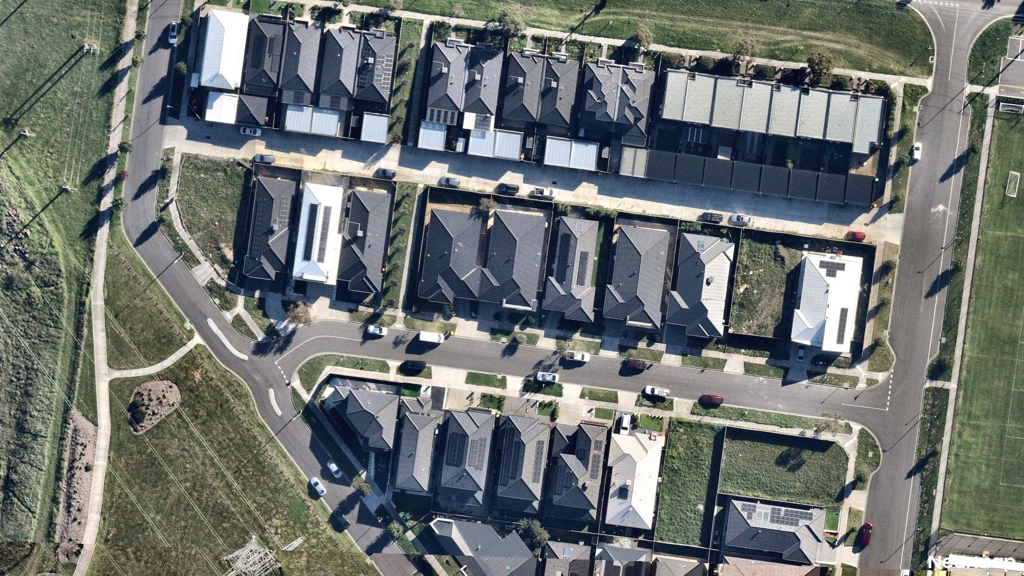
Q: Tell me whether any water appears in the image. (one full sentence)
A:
No, water can't be seen anywhere here.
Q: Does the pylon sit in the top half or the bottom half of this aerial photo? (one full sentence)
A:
The pylon sits in the bottom half of the picture.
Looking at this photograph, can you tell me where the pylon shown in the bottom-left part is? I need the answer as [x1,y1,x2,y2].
[221,532,287,576]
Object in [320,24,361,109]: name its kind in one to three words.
house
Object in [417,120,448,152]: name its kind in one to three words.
building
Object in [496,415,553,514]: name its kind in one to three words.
house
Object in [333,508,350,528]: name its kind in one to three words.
car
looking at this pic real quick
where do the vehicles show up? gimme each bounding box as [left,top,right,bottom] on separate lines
[376,168,396,178]
[168,21,178,43]
[326,459,343,478]
[498,183,519,194]
[701,394,723,404]
[847,231,866,240]
[533,186,556,197]
[419,332,444,342]
[403,361,426,371]
[702,212,723,222]
[566,351,589,361]
[333,508,350,528]
[626,360,647,369]
[254,154,274,164]
[863,522,873,546]
[731,214,750,224]
[645,387,670,397]
[619,413,630,434]
[241,126,259,136]
[537,373,559,382]
[441,177,460,186]
[367,326,387,336]
[912,142,922,161]
[309,476,326,497]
